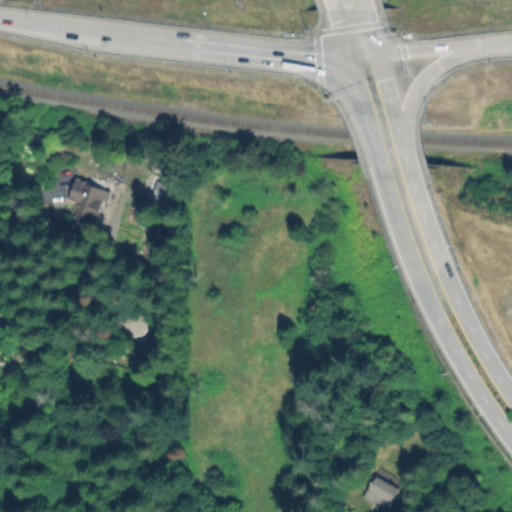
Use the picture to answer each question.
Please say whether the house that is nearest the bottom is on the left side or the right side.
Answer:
right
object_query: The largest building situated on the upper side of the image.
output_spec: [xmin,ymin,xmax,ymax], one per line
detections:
[66,178,110,218]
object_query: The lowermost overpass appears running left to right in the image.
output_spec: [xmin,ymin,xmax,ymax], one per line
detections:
[316,118,479,169]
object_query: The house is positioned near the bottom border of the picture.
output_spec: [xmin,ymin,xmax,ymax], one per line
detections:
[364,468,402,507]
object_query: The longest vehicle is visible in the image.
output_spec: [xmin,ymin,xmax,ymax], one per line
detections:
[282,60,326,73]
